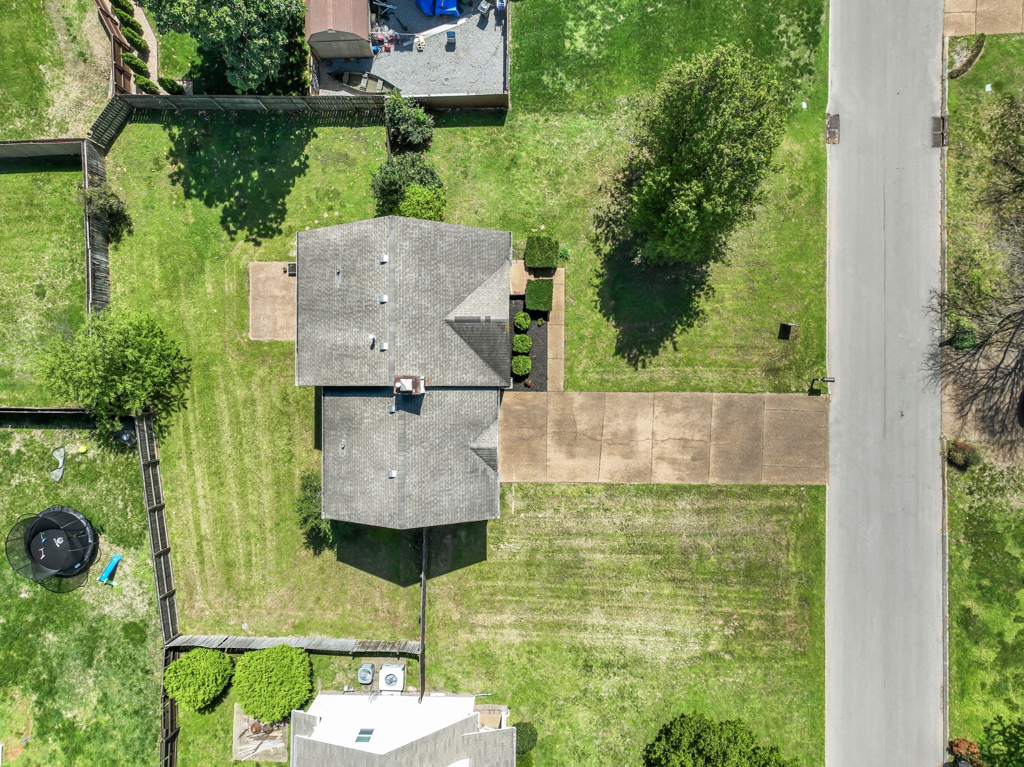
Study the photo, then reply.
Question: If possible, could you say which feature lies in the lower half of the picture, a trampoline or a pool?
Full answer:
You can see a trampoline in the lower half of the picture.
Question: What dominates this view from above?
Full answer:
The largest share of the image is taken up by grass.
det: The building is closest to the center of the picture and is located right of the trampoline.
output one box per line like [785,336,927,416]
[295,215,535,531]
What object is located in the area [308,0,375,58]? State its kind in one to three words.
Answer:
shed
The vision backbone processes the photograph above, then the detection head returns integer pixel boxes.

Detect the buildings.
[295,215,535,531]
[291,684,517,767]
[308,0,375,58]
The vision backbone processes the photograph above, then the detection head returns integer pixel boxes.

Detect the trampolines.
[4,503,108,587]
